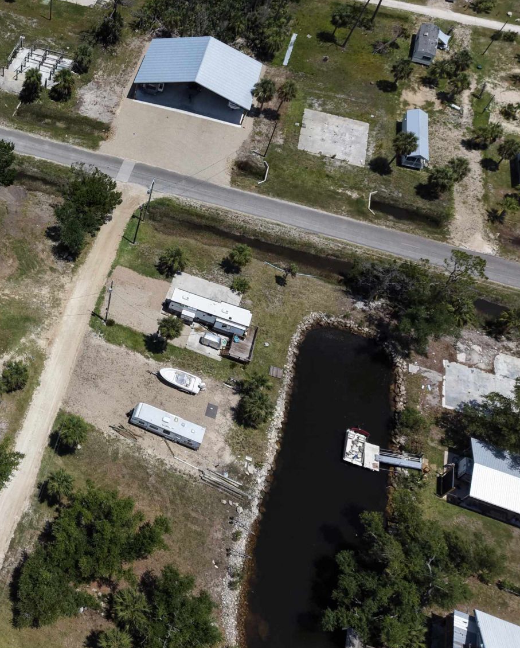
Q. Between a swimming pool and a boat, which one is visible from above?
boat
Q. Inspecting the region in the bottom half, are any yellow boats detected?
No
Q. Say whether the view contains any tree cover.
Yes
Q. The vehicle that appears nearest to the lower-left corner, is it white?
Yes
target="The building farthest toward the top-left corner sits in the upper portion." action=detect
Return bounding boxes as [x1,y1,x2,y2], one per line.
[132,32,264,130]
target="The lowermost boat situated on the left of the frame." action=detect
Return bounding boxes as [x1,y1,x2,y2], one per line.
[148,369,206,397]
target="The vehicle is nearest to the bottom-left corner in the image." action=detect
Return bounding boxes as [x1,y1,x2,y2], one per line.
[124,403,207,451]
